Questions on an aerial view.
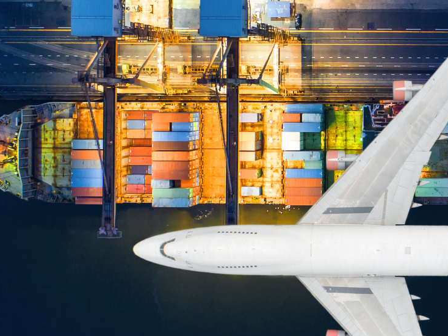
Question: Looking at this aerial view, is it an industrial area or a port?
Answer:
port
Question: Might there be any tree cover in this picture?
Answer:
No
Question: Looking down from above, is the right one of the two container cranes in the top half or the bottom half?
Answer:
top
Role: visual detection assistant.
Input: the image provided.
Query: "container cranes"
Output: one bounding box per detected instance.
[69,0,208,236]
[192,0,321,226]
